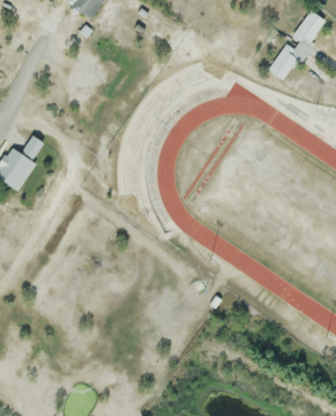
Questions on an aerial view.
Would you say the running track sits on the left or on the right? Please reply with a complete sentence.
The running track appears in the right half of the scene.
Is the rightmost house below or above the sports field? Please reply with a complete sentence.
The position of the rightmost house is above the sports field.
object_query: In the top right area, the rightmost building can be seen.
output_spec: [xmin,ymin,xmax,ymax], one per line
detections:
[294,12,326,63]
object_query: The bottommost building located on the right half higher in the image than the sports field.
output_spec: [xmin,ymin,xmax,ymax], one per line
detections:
[270,44,298,78]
